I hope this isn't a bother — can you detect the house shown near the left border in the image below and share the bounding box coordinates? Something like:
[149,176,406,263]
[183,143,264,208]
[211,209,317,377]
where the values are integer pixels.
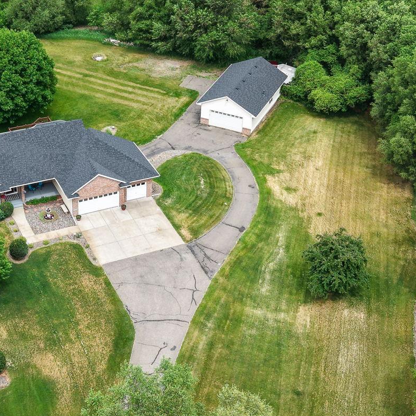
[0,111,161,224]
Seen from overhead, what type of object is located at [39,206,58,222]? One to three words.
fountain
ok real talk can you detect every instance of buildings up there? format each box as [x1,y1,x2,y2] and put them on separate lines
[195,57,289,135]
[0,111,161,224]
